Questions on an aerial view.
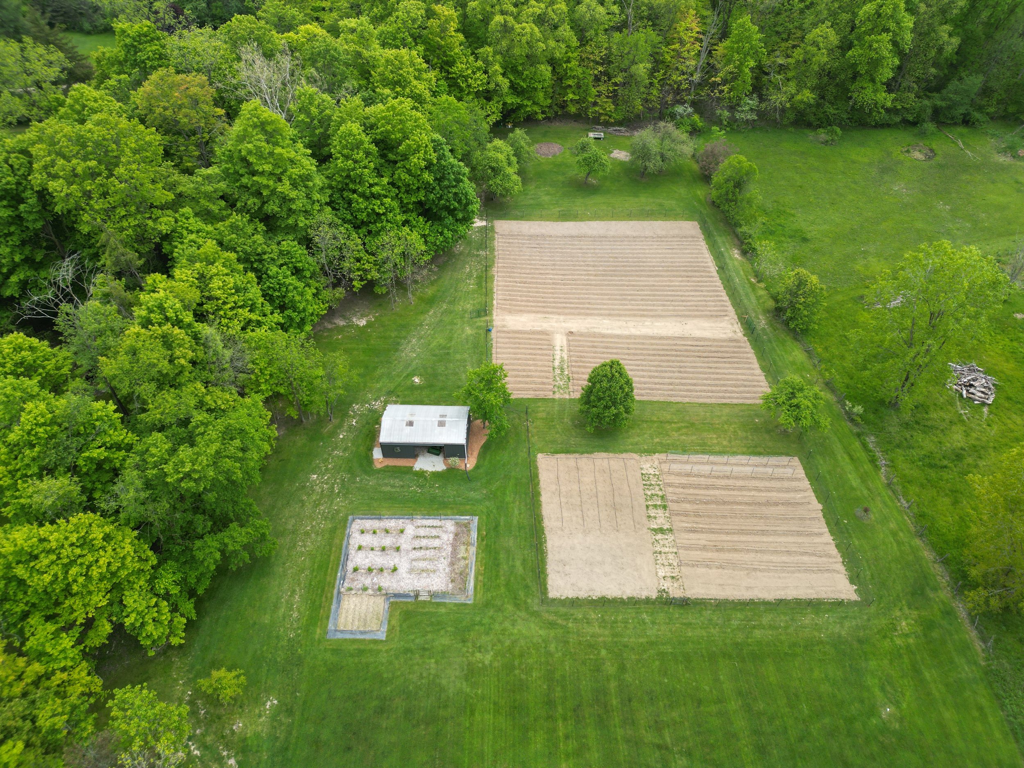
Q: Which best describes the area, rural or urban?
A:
rural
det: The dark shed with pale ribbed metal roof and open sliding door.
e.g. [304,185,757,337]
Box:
[379,403,469,463]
